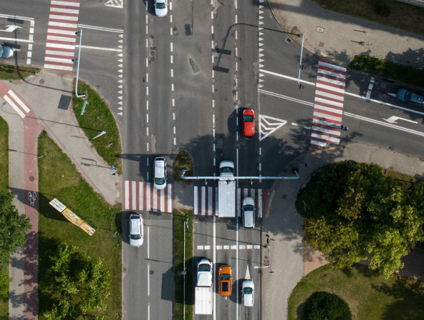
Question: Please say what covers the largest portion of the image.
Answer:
paved ground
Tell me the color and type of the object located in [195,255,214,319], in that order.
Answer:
white vehicle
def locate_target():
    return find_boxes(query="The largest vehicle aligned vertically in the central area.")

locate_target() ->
[216,161,235,220]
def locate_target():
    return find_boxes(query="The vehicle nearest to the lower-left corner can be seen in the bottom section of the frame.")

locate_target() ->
[128,213,144,246]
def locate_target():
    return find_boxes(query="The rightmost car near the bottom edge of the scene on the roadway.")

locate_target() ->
[240,277,255,307]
